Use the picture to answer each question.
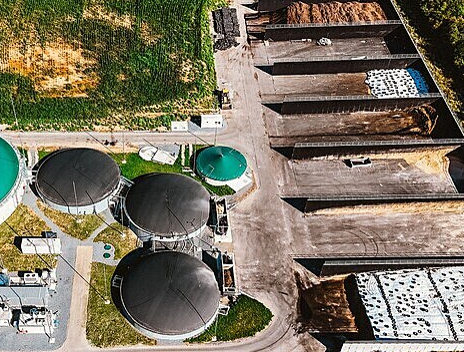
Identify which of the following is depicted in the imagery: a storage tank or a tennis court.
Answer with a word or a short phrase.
storage tank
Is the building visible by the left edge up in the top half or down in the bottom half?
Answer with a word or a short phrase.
bottom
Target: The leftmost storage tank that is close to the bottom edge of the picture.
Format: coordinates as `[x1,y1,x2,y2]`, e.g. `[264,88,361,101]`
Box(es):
[120,250,220,340]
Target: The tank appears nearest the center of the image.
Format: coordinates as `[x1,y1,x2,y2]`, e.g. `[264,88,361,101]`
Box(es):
[197,144,248,186]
